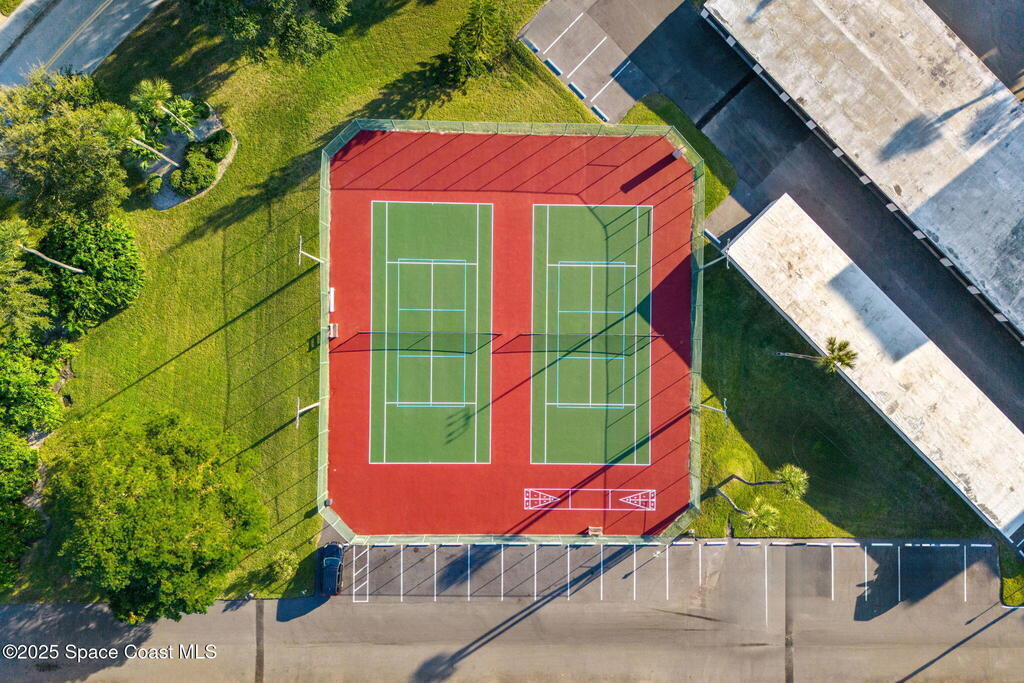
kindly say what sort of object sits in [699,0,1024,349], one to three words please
building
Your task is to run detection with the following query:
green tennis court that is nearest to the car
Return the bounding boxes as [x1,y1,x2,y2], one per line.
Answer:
[369,201,493,464]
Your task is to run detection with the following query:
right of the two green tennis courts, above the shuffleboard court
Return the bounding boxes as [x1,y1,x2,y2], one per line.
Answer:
[531,204,654,466]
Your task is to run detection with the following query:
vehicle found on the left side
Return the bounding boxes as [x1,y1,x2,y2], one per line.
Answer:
[317,540,344,599]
